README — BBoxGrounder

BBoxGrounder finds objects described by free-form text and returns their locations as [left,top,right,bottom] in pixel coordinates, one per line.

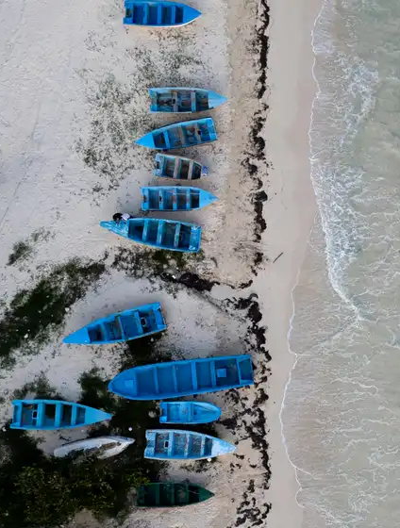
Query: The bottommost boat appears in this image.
[137,482,215,508]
